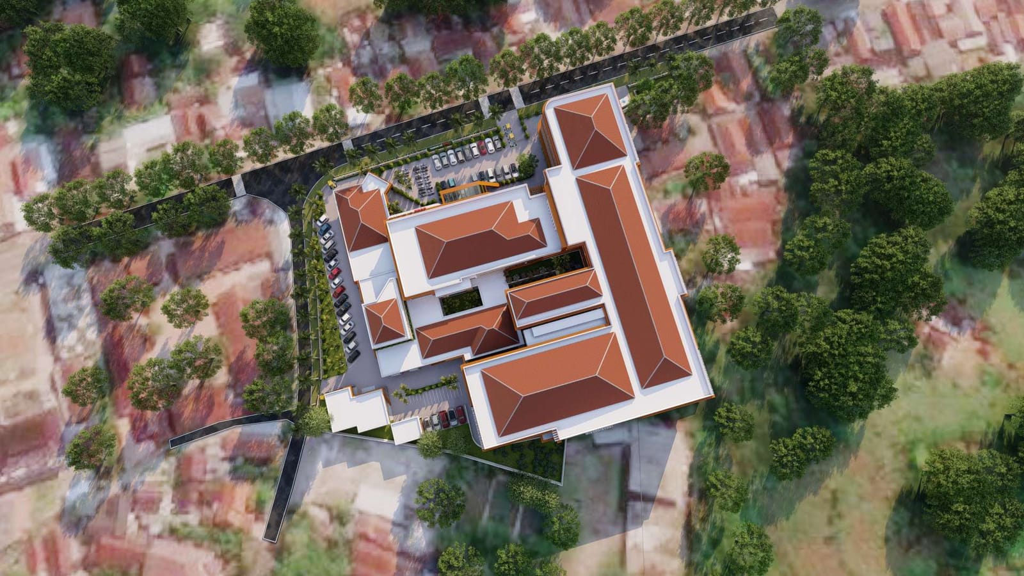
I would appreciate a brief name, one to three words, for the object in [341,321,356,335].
car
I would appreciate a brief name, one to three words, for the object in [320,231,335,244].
vehicle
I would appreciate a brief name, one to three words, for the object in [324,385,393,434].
building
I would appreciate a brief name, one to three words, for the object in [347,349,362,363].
car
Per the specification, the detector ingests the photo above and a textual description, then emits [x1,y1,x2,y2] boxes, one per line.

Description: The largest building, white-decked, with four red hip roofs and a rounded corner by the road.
[461,83,715,452]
